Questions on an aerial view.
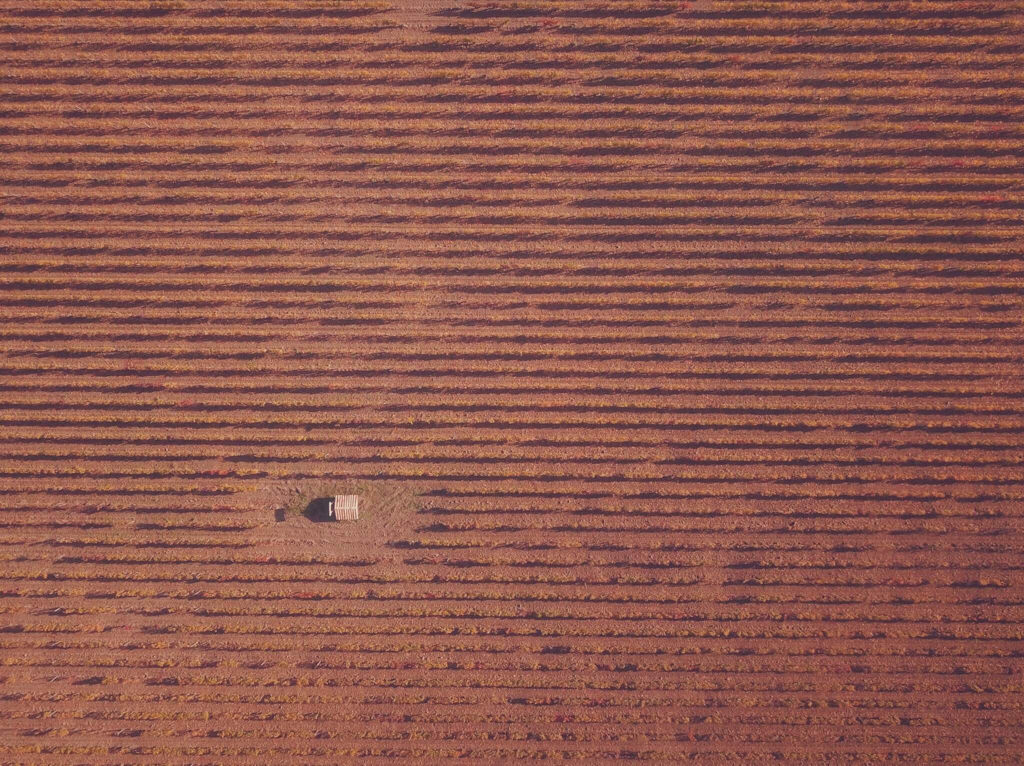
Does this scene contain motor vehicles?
No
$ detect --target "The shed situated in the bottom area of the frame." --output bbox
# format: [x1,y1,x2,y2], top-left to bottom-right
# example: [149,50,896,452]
[335,494,359,521]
